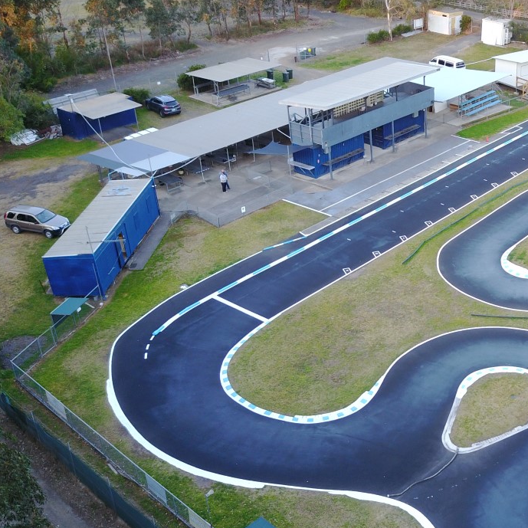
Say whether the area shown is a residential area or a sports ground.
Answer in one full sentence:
The area seen from above is a sports ground.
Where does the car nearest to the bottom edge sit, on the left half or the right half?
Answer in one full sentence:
You can find the car nearest to the bottom edge on the left side of the picture.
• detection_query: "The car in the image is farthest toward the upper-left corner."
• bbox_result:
[139,94,183,117]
